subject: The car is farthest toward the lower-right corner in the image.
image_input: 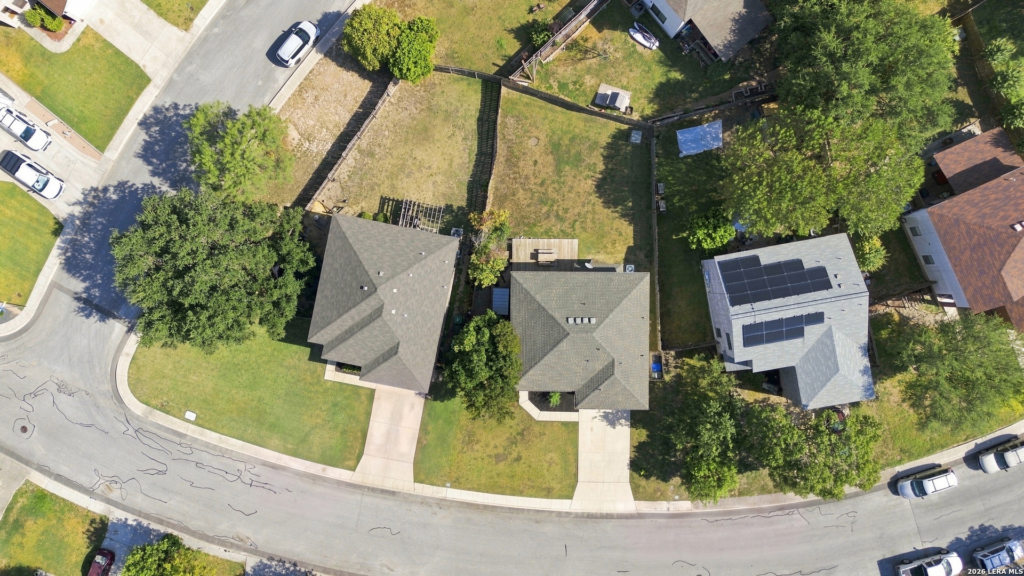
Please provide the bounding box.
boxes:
[972,538,1024,574]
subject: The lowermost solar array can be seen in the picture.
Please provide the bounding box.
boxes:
[743,312,826,348]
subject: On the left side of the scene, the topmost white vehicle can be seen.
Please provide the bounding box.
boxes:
[273,19,318,67]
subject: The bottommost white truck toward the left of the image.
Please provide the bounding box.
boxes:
[0,147,60,200]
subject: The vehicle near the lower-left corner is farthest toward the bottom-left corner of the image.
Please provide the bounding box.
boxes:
[86,549,114,576]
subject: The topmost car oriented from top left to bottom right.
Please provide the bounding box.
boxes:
[0,106,52,153]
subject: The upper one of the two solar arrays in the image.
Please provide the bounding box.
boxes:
[718,255,839,305]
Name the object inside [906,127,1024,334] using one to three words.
house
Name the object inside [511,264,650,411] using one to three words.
house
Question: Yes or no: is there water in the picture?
No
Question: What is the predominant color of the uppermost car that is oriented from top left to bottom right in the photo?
white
